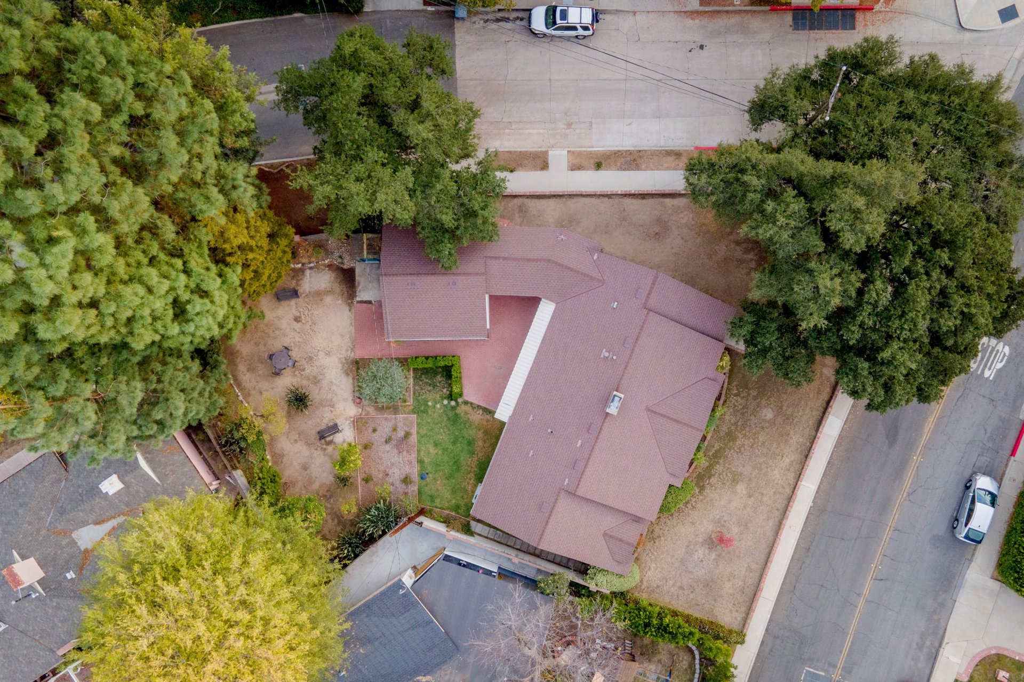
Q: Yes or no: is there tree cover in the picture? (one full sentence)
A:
Yes, some tree cover is visible.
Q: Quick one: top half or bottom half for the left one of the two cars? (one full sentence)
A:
Seen from above, the left one of the two cars lies in the top half of the view.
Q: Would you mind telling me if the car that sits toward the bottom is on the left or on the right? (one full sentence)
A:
You can find the car that sits toward the bottom on the right side of the picture.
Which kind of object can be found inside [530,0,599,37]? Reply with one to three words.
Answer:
car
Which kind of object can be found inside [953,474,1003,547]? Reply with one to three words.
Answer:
car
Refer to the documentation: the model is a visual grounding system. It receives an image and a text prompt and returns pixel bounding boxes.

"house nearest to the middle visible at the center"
[382,224,732,575]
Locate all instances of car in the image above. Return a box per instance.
[530,0,599,37]
[953,474,1003,547]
